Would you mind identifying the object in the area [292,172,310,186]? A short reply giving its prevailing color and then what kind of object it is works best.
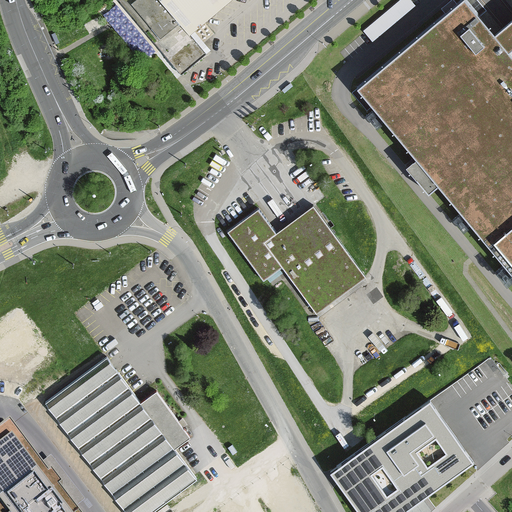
white vehicle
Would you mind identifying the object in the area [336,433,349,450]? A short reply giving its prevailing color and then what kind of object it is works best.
white vehicle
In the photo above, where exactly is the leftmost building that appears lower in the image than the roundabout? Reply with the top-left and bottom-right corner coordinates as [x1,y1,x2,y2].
[0,416,84,512]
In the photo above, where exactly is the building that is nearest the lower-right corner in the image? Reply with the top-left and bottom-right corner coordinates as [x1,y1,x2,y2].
[330,400,474,512]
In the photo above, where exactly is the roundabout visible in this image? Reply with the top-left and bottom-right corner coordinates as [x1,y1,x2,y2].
[46,142,144,242]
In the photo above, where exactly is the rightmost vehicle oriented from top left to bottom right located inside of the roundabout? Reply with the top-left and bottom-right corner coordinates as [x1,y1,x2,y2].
[107,152,136,193]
